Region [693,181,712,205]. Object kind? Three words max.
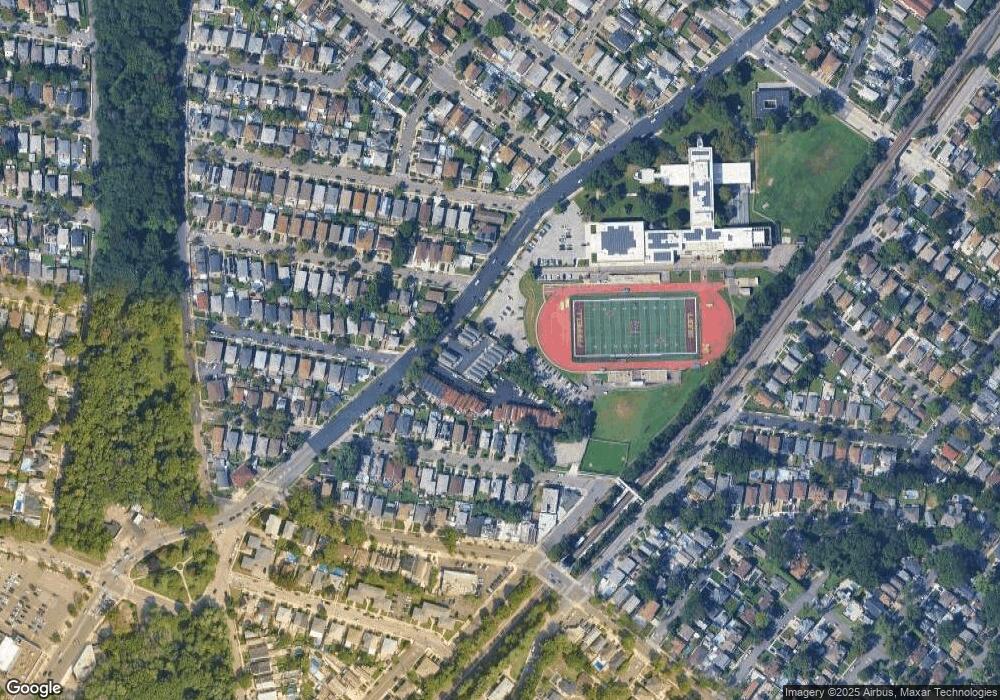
solar array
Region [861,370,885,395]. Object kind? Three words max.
house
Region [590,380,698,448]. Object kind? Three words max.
sports field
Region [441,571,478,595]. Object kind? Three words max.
building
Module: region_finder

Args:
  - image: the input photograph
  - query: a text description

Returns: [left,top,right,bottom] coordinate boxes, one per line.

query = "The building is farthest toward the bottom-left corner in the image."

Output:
[0,629,42,682]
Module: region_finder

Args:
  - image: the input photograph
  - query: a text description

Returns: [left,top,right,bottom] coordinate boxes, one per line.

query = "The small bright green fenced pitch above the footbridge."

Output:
[581,441,630,474]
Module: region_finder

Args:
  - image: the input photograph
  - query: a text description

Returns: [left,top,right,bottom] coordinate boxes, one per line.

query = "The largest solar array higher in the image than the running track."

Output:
[602,226,637,254]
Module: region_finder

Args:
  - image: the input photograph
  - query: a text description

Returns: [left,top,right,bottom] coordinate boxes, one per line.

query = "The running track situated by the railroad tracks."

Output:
[536,280,734,374]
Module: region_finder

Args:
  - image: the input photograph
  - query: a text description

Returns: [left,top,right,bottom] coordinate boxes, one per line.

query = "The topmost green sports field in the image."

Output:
[757,113,876,240]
